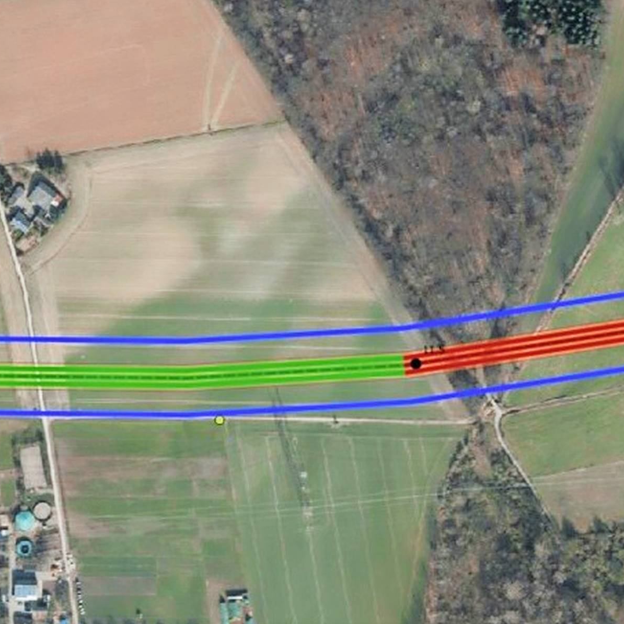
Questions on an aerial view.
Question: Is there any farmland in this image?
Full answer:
Yes, farmland shows up in the scene.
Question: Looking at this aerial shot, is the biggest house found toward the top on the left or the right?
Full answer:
The biggest house found toward the top sits on the left side.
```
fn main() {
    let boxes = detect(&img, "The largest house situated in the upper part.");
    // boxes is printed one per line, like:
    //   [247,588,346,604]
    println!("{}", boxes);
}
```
[26,179,57,211]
